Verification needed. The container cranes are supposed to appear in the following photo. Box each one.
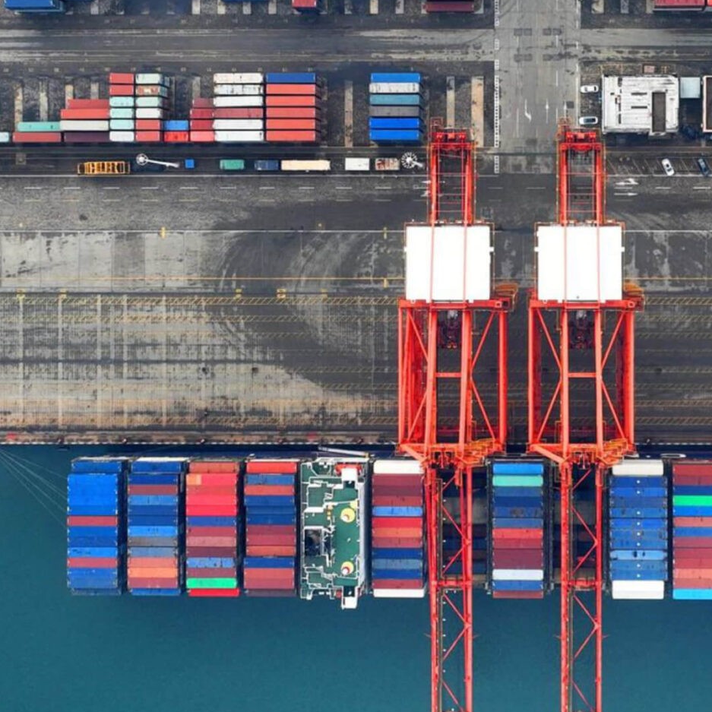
[515,115,651,712]
[393,115,528,712]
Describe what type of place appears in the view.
port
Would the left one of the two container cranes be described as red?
Yes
